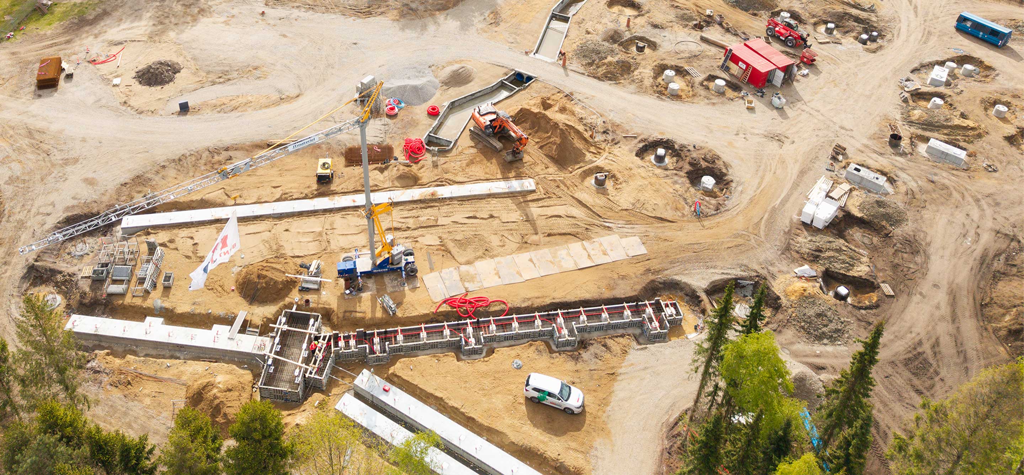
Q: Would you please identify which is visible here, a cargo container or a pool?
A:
cargo container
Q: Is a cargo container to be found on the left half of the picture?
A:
No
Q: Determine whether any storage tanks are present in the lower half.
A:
No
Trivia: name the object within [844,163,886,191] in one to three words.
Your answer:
storage tank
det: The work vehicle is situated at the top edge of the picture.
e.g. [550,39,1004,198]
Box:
[766,15,812,52]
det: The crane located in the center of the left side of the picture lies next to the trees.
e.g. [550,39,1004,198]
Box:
[19,84,425,293]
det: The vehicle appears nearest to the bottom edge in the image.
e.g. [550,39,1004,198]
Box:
[523,373,585,411]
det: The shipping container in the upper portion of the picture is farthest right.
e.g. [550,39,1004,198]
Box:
[953,9,1012,47]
